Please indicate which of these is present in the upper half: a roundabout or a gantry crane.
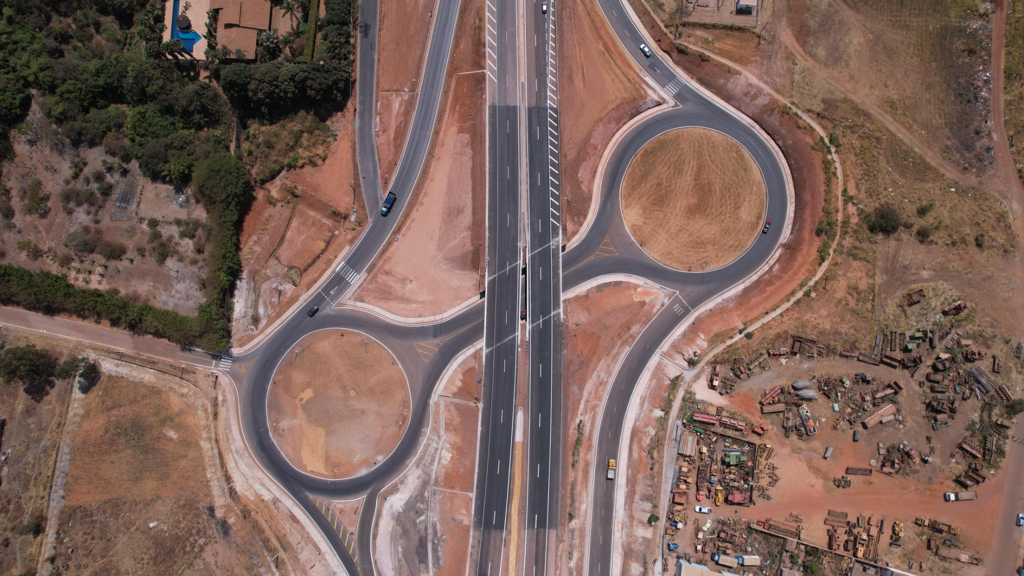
roundabout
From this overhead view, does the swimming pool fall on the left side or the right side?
left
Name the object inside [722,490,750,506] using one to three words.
work vehicle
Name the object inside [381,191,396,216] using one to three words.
vehicle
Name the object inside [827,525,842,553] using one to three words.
work vehicle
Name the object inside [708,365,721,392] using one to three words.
vehicle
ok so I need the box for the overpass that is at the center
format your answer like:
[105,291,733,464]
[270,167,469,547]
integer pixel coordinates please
[479,227,571,358]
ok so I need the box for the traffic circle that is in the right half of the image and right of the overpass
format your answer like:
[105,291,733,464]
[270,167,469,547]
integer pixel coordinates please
[600,103,789,294]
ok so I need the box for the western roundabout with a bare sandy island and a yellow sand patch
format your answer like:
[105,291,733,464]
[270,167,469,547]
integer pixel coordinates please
[243,306,431,502]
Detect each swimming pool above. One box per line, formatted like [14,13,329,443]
[170,0,203,54]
